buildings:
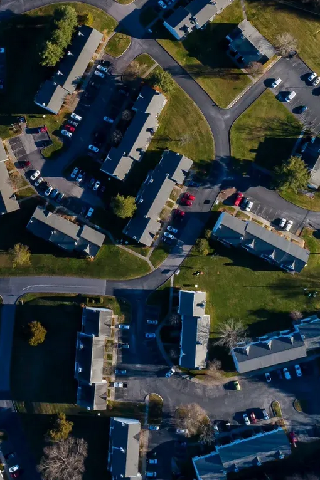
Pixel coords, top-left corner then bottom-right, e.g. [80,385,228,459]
[227,19,278,68]
[299,136,320,187]
[76,306,114,411]
[111,416,144,480]
[173,287,211,369]
[192,425,289,480]
[212,209,311,272]
[101,88,165,180]
[0,136,20,215]
[27,204,106,256]
[35,24,105,113]
[162,0,228,40]
[232,316,320,374]
[125,149,194,246]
